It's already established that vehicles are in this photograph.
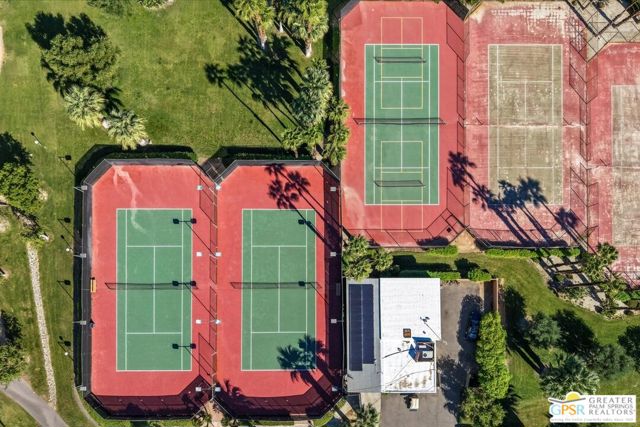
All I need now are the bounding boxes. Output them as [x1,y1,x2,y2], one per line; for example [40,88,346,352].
[467,311,481,341]
[411,398,421,413]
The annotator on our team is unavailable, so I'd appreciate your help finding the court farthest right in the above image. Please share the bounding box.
[587,43,640,287]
